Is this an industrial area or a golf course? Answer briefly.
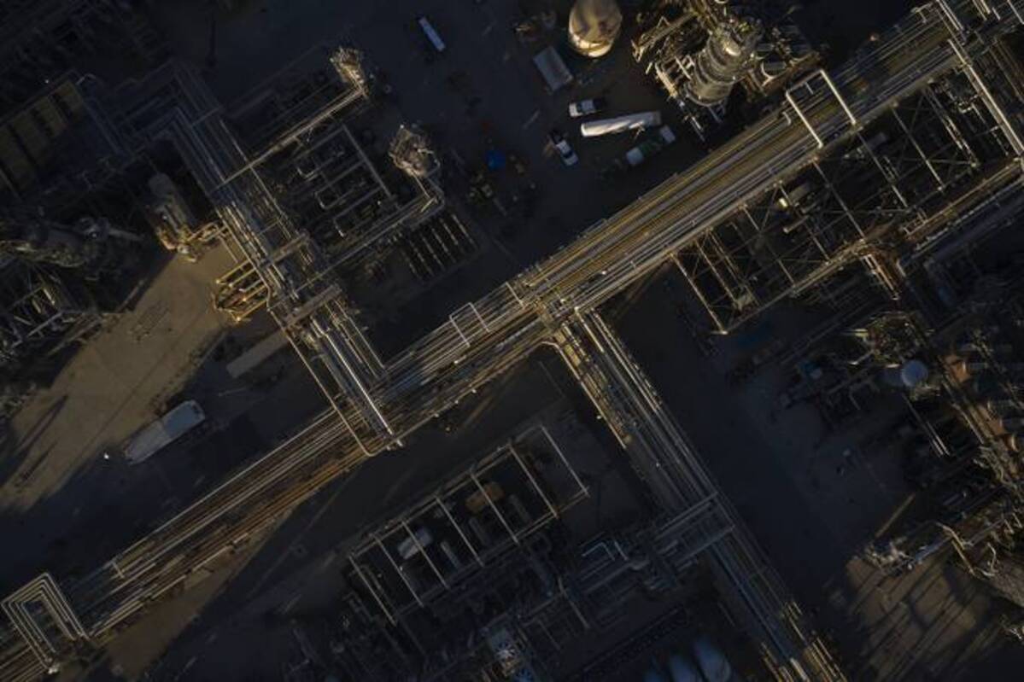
industrial area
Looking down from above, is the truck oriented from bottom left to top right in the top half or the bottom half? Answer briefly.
top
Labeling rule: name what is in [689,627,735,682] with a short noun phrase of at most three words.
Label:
storage tank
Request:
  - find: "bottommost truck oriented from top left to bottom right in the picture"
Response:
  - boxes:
[551,128,579,162]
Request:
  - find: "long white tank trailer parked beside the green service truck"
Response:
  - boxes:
[580,105,664,133]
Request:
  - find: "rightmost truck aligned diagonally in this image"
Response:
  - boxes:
[625,118,680,165]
